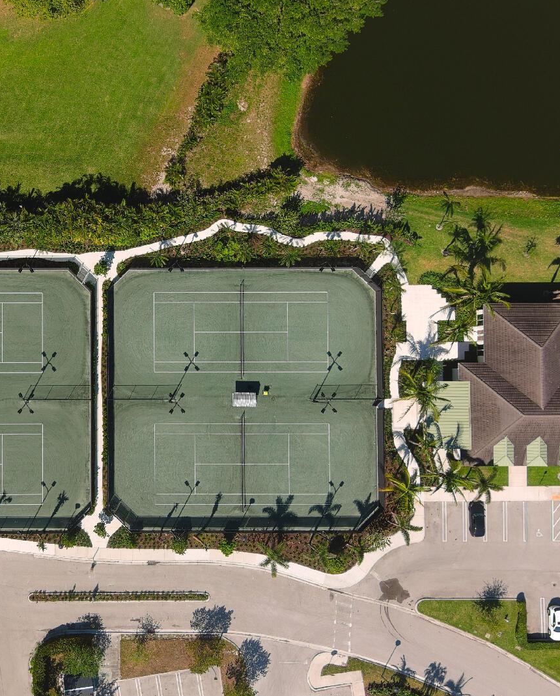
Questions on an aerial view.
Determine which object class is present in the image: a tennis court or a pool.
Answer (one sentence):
It is a tennis court that can be seen here.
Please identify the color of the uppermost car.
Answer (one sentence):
In this view, the uppermost car is black.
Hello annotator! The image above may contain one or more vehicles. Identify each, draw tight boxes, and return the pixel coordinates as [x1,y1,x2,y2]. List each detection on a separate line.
[466,500,487,537]
[546,601,560,640]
